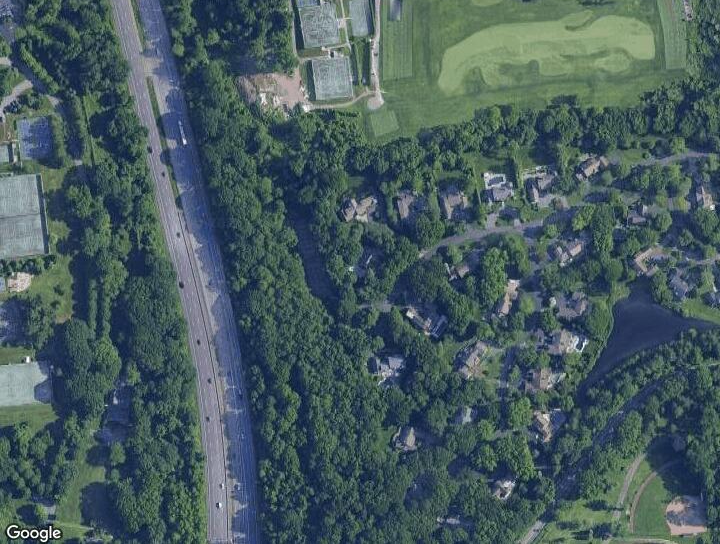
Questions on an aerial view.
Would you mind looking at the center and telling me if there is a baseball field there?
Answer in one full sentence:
No, I see no baseball field at the center.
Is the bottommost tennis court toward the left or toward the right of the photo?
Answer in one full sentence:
The bottommost tennis court sits on the left side.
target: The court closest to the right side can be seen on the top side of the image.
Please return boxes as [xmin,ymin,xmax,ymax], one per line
[350,0,373,37]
